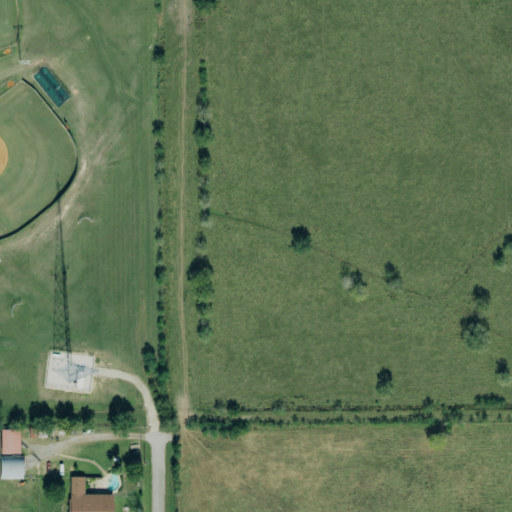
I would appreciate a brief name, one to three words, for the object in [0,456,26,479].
shed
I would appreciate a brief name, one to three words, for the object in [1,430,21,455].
barn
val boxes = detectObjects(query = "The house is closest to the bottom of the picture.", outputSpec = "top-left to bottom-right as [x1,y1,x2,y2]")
[70,477,116,512]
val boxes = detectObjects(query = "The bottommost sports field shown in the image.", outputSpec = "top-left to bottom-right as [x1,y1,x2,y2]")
[0,79,77,238]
